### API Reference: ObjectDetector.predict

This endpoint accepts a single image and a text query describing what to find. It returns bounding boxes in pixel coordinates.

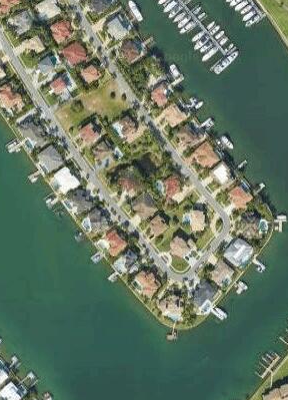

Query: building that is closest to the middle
[129,191,158,220]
